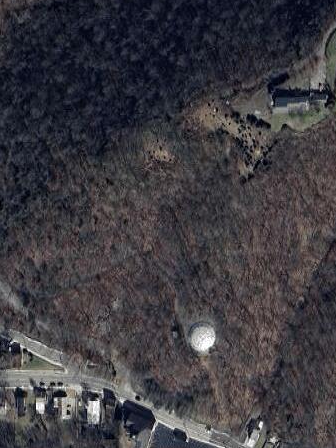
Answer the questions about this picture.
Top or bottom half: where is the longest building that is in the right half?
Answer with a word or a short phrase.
top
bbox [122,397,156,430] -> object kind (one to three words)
building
